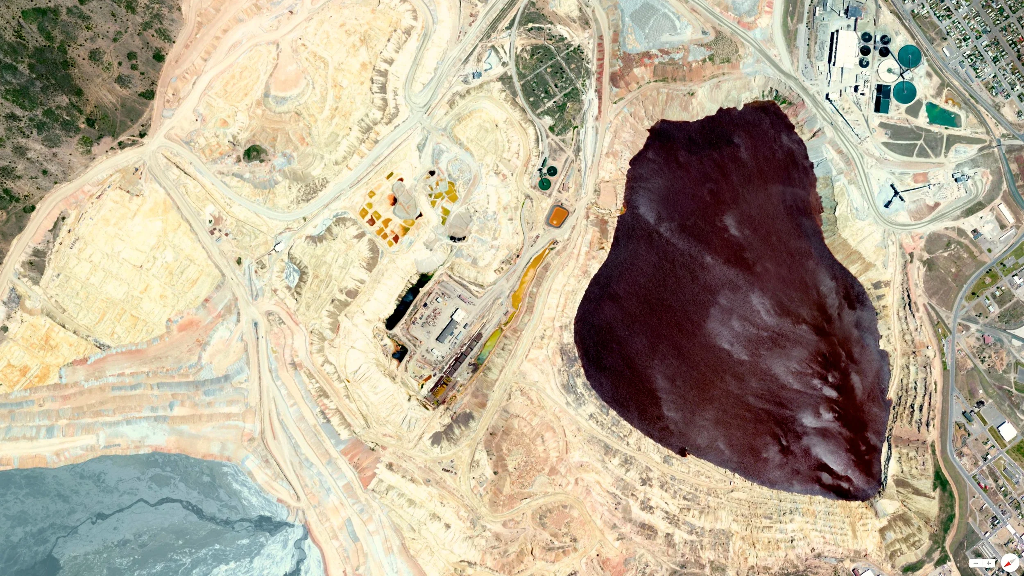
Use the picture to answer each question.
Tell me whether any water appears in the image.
Yes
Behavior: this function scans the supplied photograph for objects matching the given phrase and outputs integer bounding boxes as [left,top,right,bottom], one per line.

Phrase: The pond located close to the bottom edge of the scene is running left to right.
[0,451,325,576]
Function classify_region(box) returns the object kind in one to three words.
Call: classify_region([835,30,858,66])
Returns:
building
